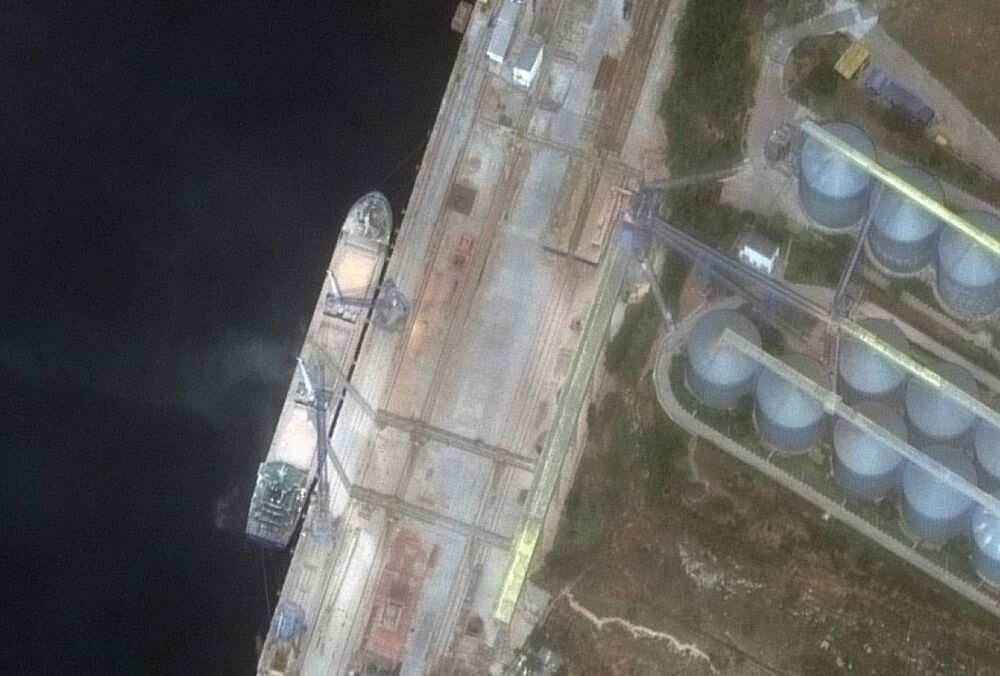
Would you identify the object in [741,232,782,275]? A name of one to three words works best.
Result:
house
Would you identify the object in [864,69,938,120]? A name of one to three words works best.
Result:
truck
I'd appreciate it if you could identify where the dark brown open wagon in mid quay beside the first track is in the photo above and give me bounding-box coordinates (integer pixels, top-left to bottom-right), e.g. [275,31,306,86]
[446,177,479,213]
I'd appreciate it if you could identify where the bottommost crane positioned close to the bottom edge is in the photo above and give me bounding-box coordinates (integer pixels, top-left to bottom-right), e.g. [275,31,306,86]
[266,607,312,661]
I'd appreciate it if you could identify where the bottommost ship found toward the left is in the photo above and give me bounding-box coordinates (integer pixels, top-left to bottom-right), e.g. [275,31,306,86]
[246,189,389,553]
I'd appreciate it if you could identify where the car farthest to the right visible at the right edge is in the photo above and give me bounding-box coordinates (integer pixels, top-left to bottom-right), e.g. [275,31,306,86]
[934,131,951,146]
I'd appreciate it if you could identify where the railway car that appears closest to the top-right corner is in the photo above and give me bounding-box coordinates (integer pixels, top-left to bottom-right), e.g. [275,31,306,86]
[595,51,622,91]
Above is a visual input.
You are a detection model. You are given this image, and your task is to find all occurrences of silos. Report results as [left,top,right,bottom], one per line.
[896,445,979,544]
[752,355,833,454]
[683,311,763,410]
[933,213,1000,318]
[795,125,877,231]
[828,402,910,501]
[831,319,912,410]
[966,489,1000,587]
[900,363,981,454]
[865,169,947,275]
